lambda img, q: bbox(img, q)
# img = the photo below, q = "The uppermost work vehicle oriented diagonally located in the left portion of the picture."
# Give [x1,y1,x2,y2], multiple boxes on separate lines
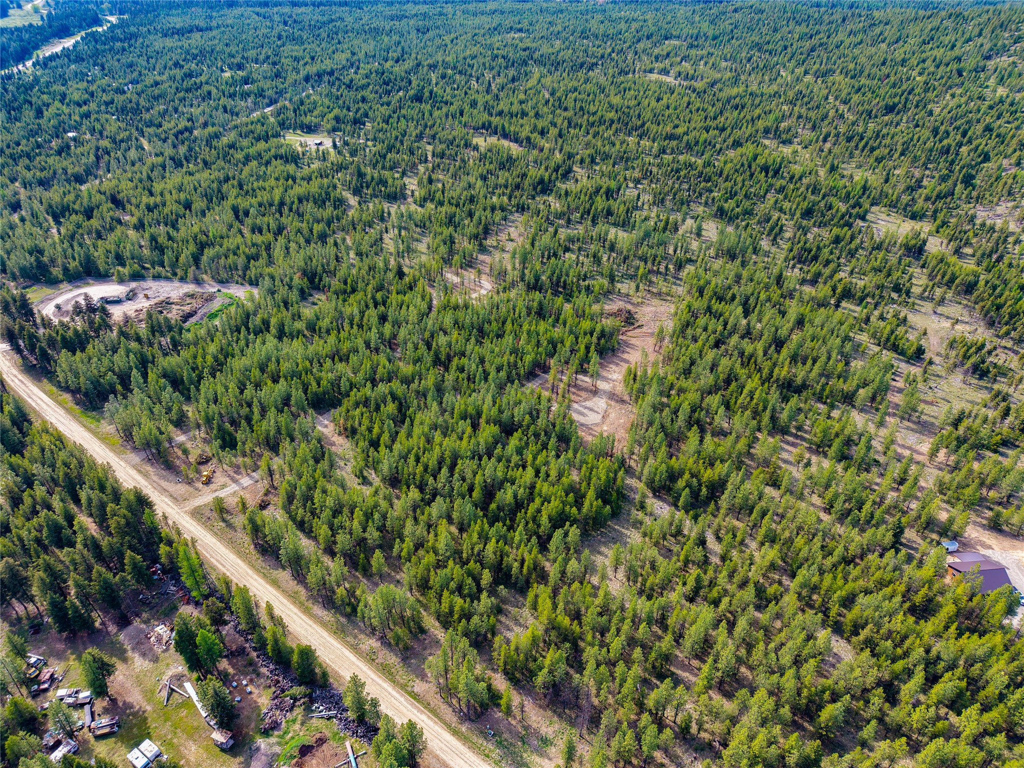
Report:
[198,465,222,489]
